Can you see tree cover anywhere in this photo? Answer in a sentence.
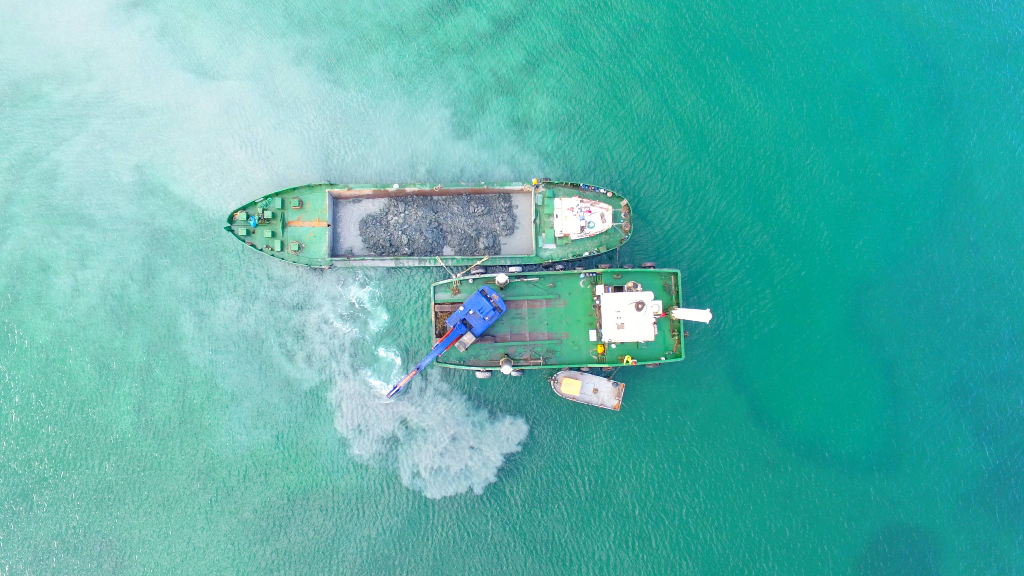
No, there's no tree cover in this view.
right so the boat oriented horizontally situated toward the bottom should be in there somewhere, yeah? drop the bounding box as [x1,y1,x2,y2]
[551,370,625,410]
